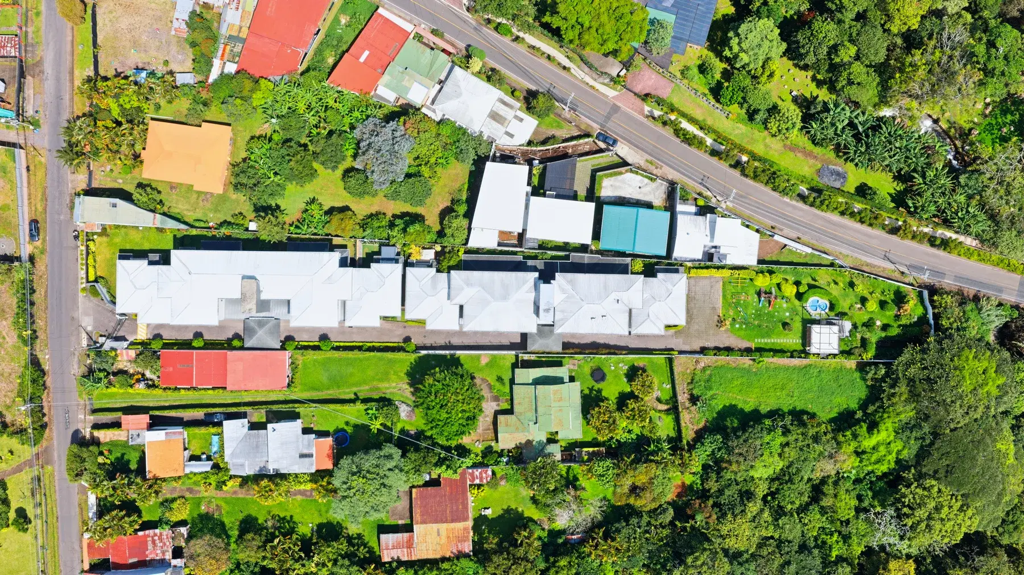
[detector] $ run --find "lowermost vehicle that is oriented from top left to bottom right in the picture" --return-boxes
[596,131,617,147]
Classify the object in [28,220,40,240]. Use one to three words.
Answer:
vehicle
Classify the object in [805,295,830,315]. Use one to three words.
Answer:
swimming pool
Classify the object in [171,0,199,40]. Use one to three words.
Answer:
shed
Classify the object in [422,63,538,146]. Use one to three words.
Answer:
house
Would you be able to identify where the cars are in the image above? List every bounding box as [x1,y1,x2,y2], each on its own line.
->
[28,220,40,240]
[596,131,617,147]
[205,413,226,423]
